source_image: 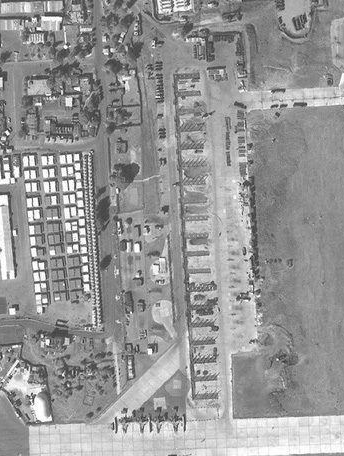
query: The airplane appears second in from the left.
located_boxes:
[135,411,148,432]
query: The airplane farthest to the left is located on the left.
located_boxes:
[118,412,133,433]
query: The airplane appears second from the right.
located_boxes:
[151,411,164,430]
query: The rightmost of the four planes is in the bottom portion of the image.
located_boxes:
[169,411,182,430]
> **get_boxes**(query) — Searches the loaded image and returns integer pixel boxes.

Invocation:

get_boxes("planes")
[135,411,148,432]
[151,411,164,430]
[118,412,133,433]
[169,411,182,430]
